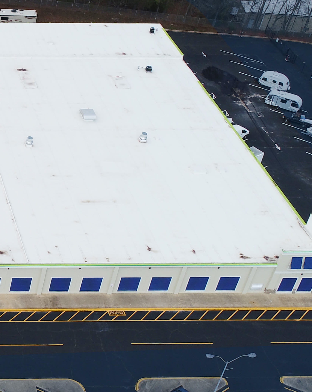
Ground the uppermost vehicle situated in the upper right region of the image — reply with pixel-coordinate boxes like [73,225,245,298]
[251,68,294,89]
